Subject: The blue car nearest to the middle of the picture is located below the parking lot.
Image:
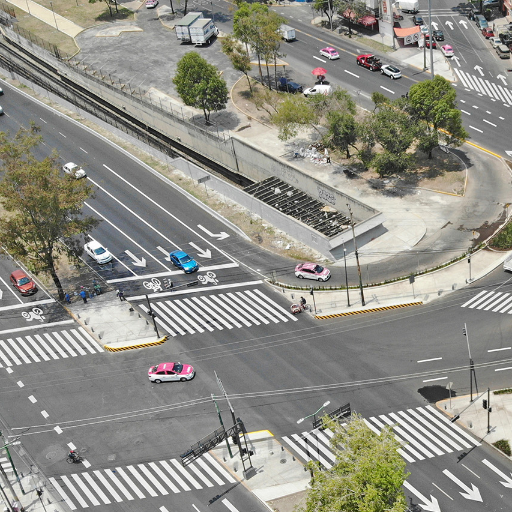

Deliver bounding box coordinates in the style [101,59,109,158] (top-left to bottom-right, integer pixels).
[168,250,200,275]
